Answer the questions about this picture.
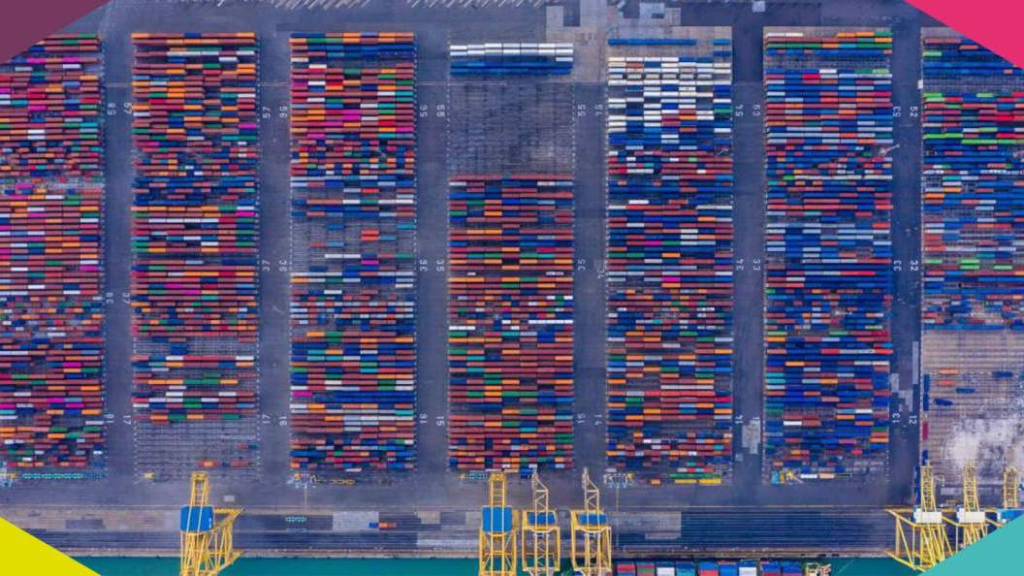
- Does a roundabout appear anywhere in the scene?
No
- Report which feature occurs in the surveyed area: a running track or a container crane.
container crane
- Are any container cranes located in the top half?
No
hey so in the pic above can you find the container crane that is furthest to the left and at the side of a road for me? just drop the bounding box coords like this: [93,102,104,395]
[175,471,249,576]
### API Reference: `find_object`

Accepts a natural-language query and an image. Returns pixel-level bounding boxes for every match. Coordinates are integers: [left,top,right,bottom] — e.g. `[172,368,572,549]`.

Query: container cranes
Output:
[517,467,561,576]
[175,471,249,576]
[563,467,610,576]
[477,471,518,576]
[882,463,960,576]
[961,463,1024,576]
[920,463,1004,576]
